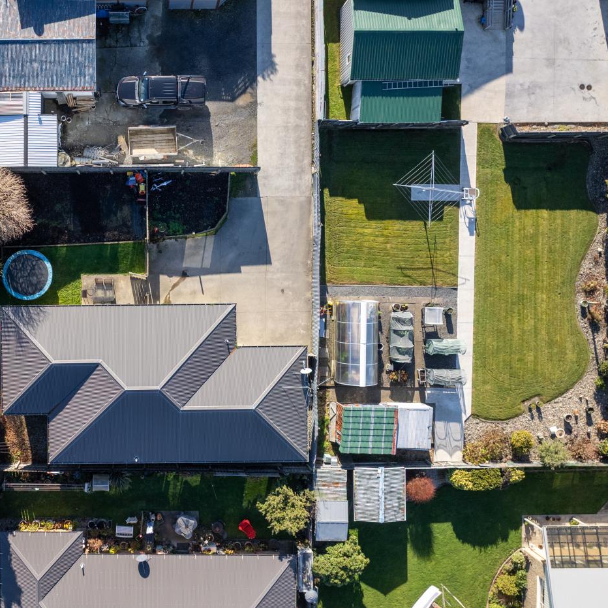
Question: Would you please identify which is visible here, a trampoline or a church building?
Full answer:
Looking from above, you can make out a trampoline.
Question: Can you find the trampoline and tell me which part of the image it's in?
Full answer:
The trampoline is located in the left region of the scene.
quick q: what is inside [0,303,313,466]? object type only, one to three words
house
